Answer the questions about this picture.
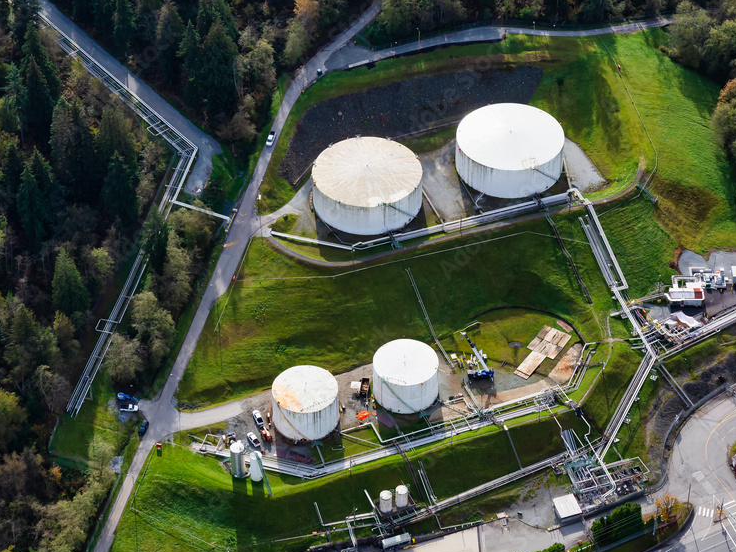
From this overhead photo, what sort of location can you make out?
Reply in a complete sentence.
This image shows an industrial area.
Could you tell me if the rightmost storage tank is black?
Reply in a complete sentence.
No, the rightmost storage tank is white.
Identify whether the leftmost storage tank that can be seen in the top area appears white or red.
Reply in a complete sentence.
The color of the leftmost storage tank that can be seen in the top area is white.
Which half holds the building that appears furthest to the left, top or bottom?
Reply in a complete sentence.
Seen from above, the building that appears furthest to the left lies in the bottom half of the view.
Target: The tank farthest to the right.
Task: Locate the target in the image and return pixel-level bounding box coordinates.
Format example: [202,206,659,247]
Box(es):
[459,105,571,204]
